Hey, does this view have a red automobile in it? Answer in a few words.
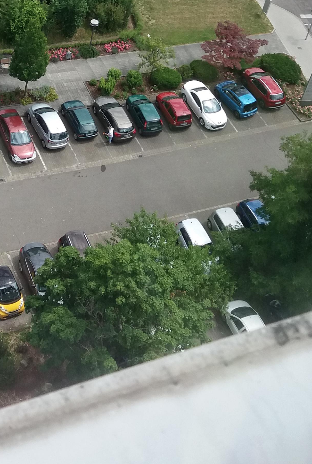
Yes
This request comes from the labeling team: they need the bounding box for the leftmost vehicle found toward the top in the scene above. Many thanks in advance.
[0,110,35,163]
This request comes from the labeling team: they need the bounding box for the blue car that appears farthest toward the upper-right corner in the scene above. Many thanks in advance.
[219,82,259,119]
